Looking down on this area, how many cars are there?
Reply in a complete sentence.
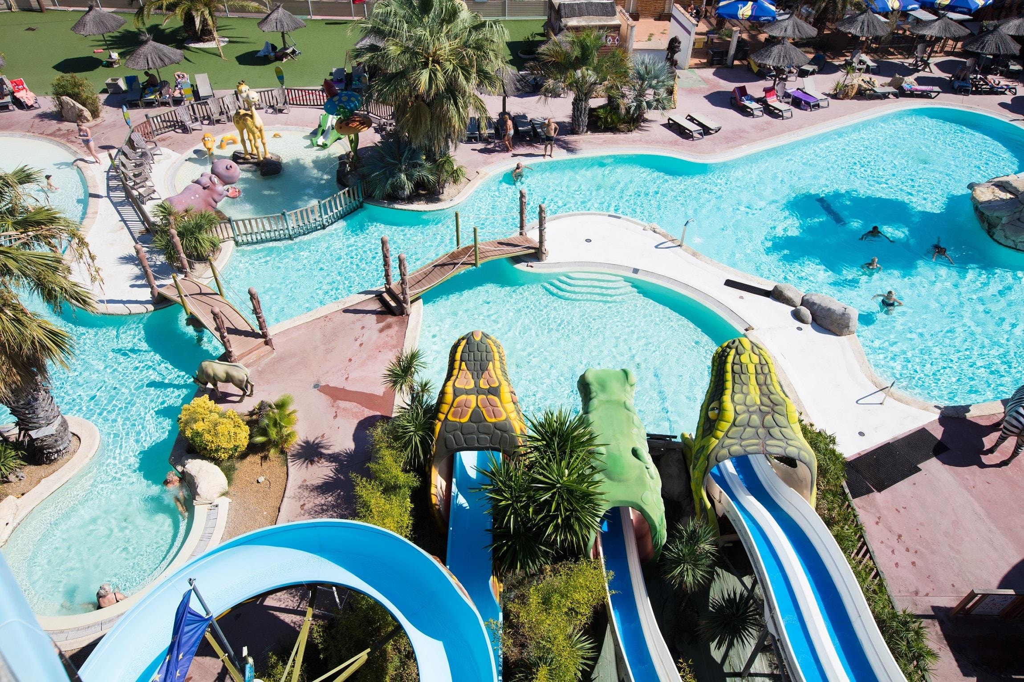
The count of cars is 0.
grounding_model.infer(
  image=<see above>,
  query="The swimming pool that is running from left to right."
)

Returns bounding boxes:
[0,109,1024,615]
